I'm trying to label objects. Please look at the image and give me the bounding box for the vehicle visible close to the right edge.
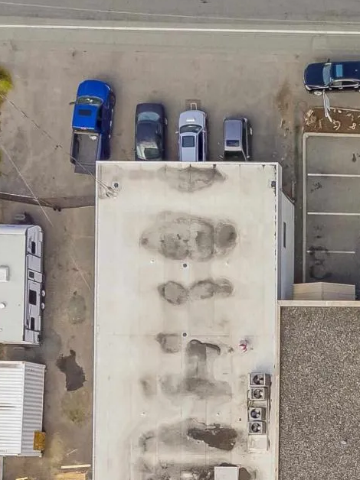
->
[305,59,360,97]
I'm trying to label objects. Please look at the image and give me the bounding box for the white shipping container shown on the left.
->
[0,363,47,455]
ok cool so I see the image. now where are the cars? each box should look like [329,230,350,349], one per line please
[305,59,360,97]
[134,104,170,162]
[219,116,254,164]
[176,111,212,162]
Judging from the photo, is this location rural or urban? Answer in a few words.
urban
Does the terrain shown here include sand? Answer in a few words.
No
